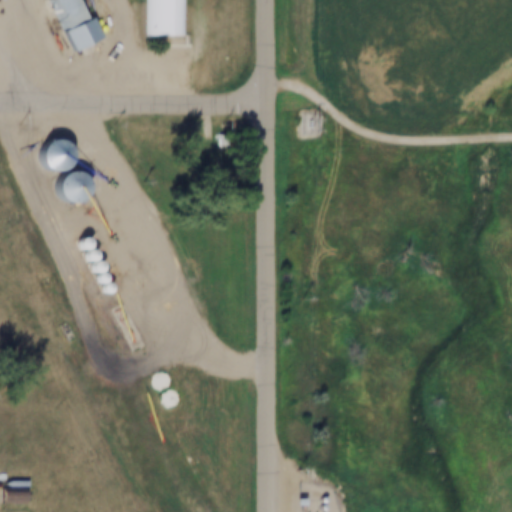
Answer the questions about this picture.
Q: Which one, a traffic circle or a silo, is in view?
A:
silo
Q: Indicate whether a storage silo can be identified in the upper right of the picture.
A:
No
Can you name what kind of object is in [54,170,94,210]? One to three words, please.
silo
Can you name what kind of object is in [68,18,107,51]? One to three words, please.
shed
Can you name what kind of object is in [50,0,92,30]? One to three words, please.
barn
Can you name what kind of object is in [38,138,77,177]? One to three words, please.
silo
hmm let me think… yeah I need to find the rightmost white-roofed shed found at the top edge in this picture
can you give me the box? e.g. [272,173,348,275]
[145,0,188,38]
